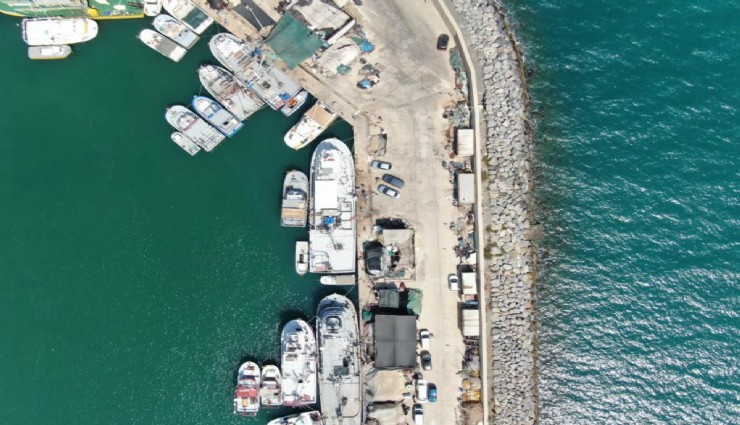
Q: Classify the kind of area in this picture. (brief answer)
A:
port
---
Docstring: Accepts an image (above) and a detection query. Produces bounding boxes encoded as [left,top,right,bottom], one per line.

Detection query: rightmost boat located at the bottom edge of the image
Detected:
[314,293,363,425]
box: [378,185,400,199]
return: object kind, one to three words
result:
vehicle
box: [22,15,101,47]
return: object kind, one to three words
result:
vessel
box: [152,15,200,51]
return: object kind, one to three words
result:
boat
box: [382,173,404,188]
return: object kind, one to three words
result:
car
